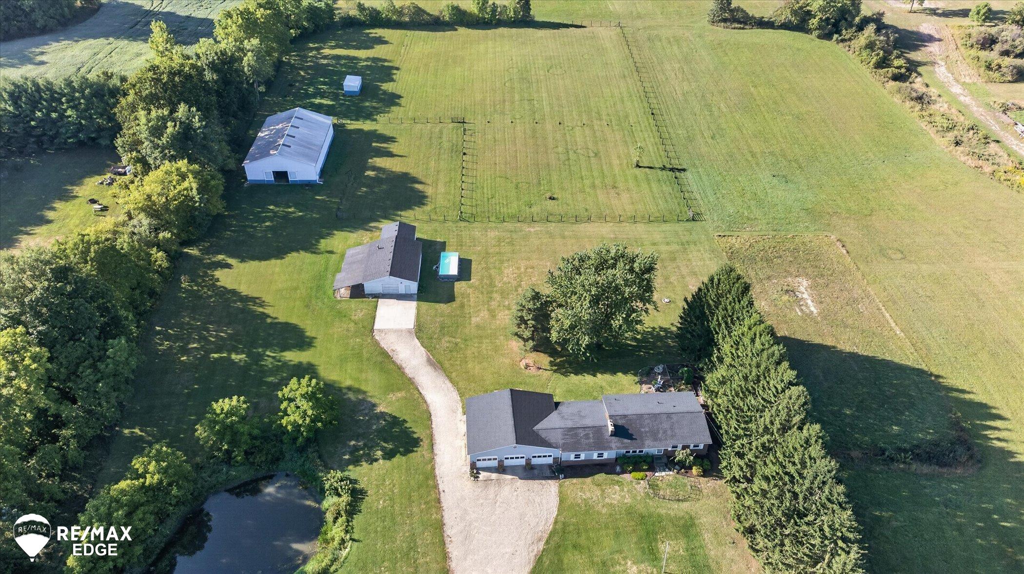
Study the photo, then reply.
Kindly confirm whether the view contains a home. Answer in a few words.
Yes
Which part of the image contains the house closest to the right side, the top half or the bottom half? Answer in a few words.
bottom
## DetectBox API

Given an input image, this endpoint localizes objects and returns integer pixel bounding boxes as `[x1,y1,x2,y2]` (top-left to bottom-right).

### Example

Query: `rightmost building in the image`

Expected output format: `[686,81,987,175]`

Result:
[465,388,714,469]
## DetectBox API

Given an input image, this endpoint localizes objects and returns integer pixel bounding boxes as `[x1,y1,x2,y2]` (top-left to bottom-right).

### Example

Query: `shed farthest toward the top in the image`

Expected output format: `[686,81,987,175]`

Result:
[343,75,362,96]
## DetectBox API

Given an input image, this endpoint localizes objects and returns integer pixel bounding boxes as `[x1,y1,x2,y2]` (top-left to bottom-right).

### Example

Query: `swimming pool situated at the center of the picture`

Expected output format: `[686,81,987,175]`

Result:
[437,252,462,282]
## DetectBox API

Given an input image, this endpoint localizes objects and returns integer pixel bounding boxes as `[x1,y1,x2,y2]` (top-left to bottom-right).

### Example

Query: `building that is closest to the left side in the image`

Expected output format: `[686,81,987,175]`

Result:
[242,107,333,185]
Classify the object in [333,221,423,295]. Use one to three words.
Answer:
building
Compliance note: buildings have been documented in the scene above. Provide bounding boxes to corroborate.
[465,388,714,469]
[343,75,362,96]
[242,107,333,185]
[333,221,423,295]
